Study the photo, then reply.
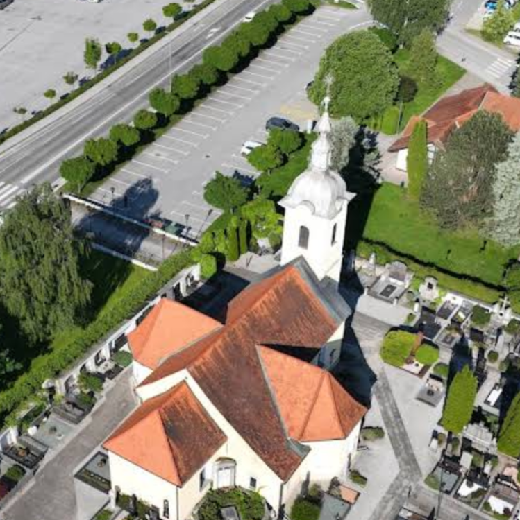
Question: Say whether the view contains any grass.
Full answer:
Yes, grass can be seen from above here.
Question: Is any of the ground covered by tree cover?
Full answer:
Yes, the picture does contain tree cover.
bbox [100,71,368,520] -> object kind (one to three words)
church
